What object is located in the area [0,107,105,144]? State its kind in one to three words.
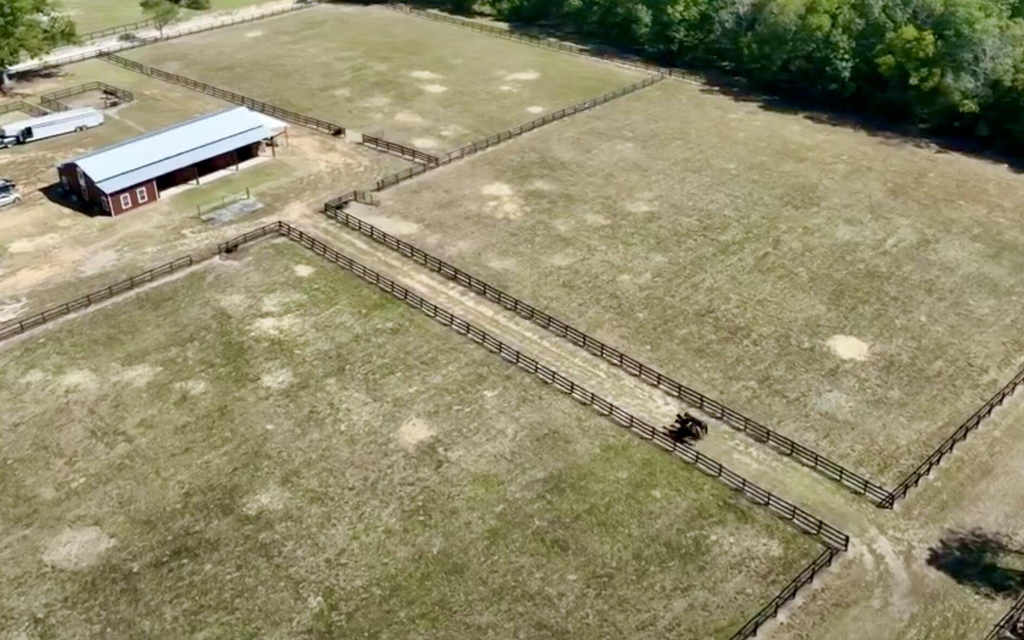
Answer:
trailer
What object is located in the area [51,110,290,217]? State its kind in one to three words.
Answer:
barn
